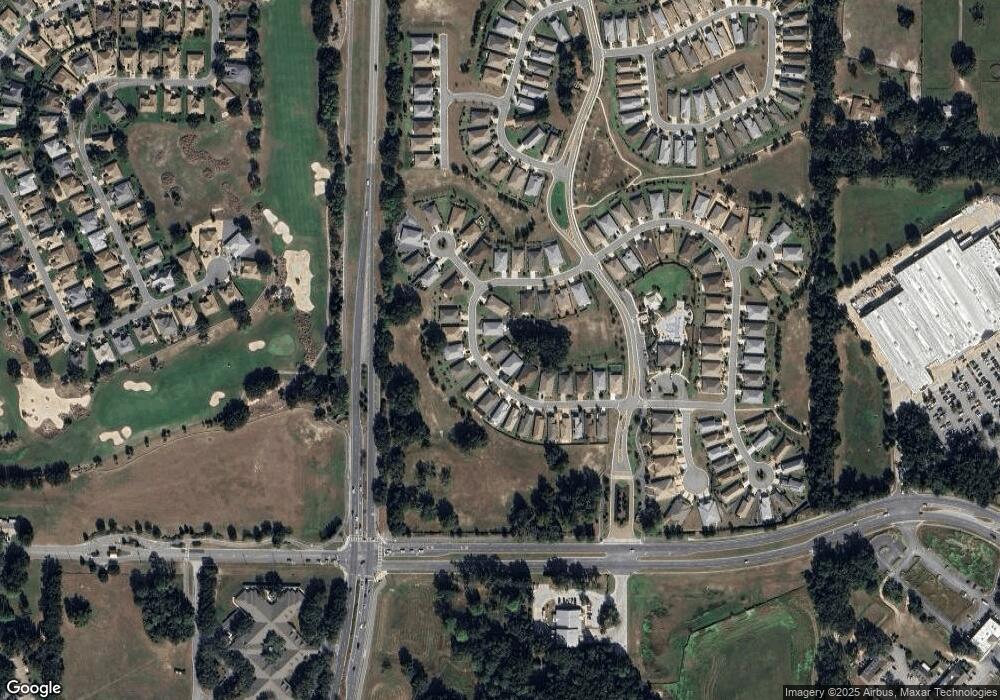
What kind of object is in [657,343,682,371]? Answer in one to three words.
building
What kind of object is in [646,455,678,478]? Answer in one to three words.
house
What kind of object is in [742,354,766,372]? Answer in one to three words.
house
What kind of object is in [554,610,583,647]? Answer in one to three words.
building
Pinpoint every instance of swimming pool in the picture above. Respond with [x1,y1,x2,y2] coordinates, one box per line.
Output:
[656,300,691,345]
